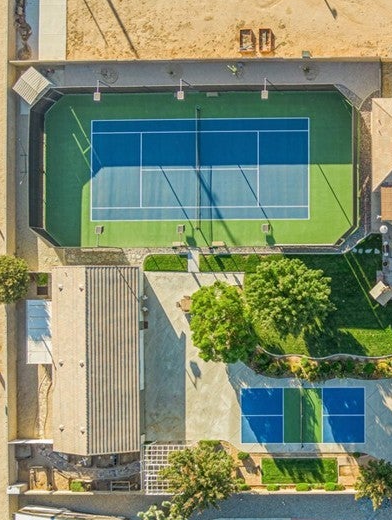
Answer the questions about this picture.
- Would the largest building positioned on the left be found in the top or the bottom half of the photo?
bottom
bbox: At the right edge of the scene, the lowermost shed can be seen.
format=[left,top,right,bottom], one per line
[367,279,392,307]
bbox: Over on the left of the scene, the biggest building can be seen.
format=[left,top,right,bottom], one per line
[52,265,149,456]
